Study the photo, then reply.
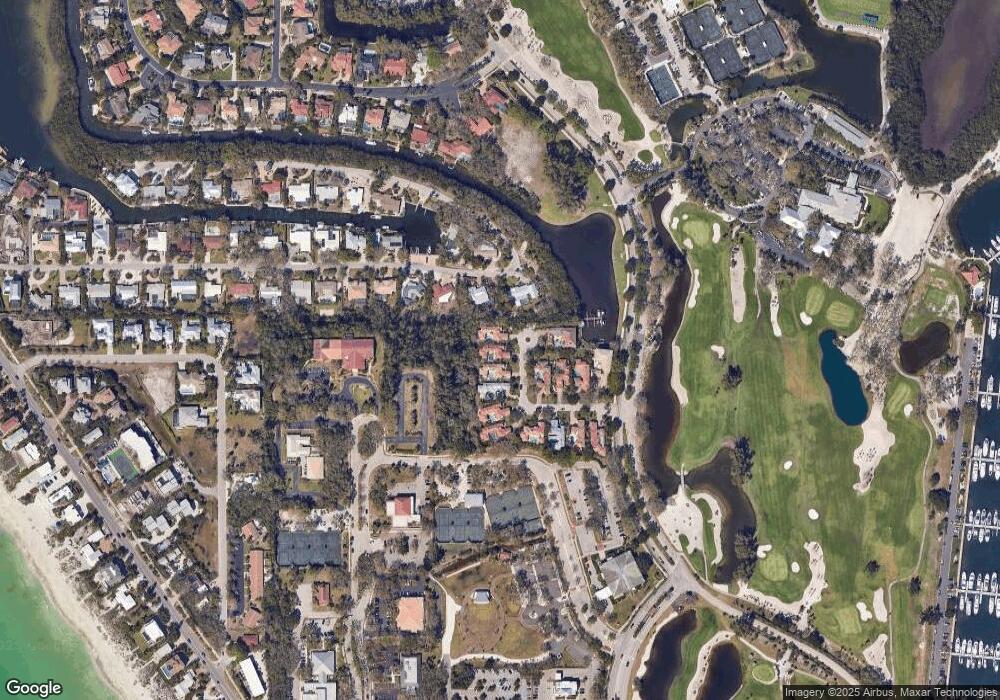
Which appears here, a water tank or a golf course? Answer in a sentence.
This aerial view contains a golf course.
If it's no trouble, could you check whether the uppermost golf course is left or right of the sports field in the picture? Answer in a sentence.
The uppermost golf course appears to the left of the sports field in this view.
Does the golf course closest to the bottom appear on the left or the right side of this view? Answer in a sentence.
You can find the golf course closest to the bottom on the right side of the picture.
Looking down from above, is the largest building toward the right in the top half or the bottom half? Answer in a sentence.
Seen from above, the largest building toward the right lies in the top half of the view.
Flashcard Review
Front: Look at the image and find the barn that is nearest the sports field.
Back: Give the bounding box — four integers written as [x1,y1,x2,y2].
[820,106,872,149]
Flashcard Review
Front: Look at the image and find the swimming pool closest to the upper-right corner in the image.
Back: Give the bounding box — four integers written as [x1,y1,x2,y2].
[970,284,984,304]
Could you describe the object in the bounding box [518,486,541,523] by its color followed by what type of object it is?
gray tennis court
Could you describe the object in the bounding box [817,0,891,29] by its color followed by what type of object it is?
green sports field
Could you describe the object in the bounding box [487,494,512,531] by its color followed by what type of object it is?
gray tennis court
